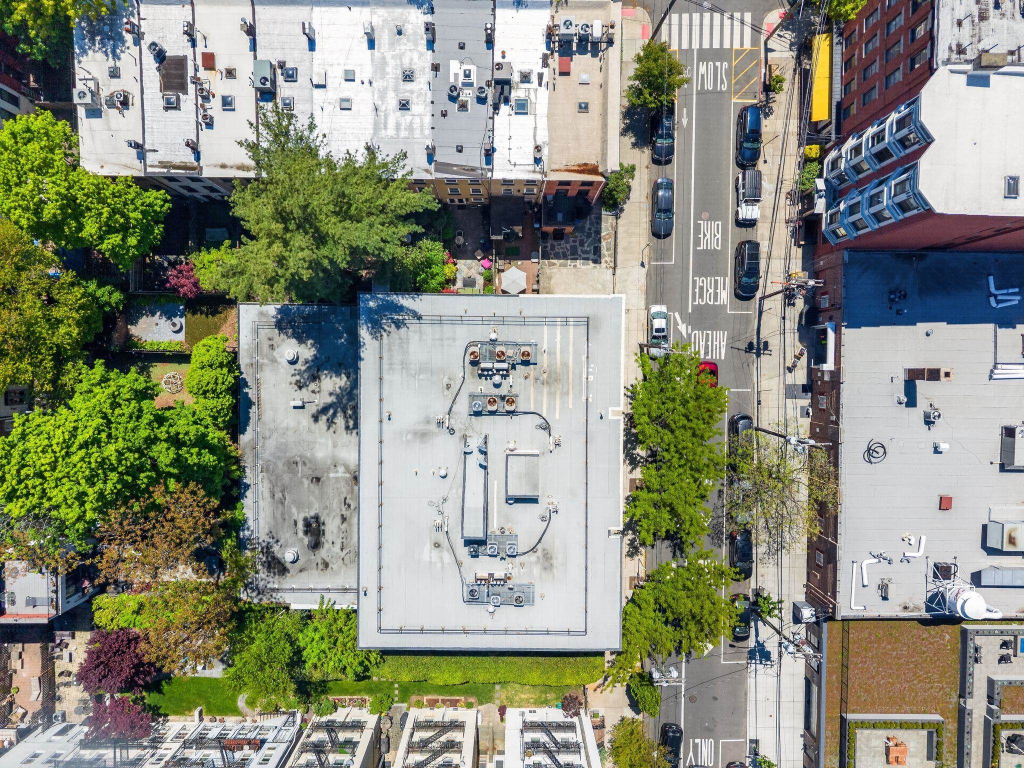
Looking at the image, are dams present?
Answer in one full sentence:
No, the scene contains no dam.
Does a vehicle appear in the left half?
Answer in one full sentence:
No, no vehicle appears in the left half.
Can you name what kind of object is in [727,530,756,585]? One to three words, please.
car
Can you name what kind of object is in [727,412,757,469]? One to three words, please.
car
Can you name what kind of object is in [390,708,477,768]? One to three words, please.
house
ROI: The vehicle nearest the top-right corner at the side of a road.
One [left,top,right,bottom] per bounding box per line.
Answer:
[735,102,766,166]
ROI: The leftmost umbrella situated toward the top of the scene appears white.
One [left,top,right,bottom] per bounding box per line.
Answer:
[502,267,525,293]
